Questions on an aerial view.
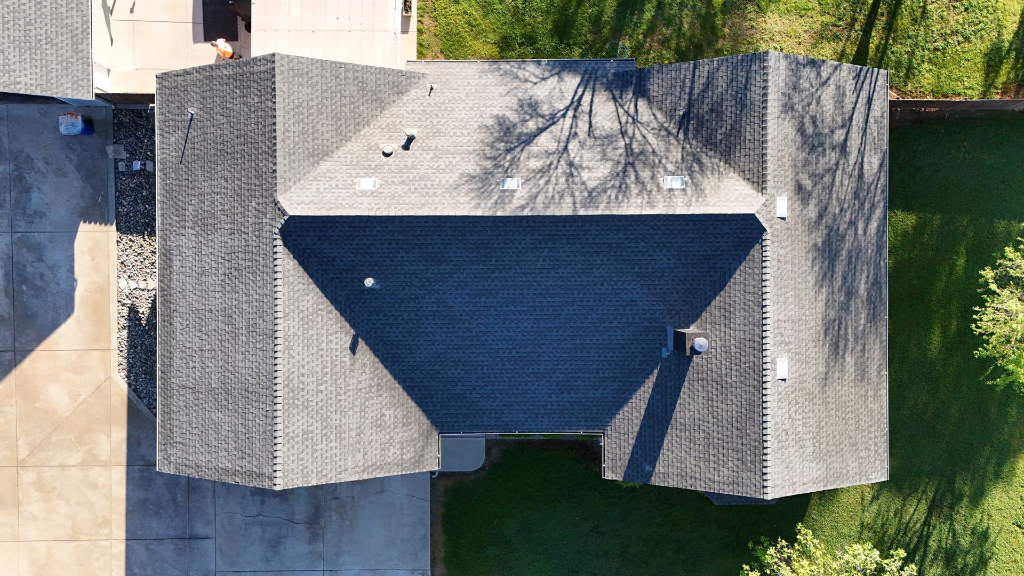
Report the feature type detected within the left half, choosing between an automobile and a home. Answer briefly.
home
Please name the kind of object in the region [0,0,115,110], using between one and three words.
house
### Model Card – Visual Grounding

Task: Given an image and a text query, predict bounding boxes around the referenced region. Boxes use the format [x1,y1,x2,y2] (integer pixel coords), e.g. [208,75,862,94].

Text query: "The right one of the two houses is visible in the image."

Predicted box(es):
[153,49,891,504]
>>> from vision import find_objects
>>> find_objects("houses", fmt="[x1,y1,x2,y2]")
[153,49,891,504]
[0,0,115,110]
